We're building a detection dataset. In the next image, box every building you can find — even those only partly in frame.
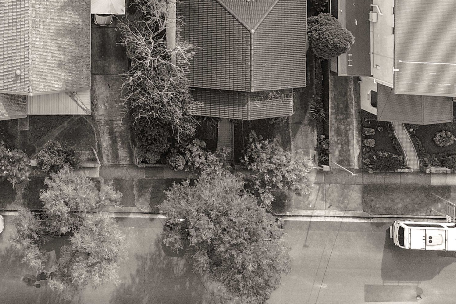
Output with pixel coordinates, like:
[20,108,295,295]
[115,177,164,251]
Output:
[355,0,456,125]
[169,0,309,121]
[0,0,93,120]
